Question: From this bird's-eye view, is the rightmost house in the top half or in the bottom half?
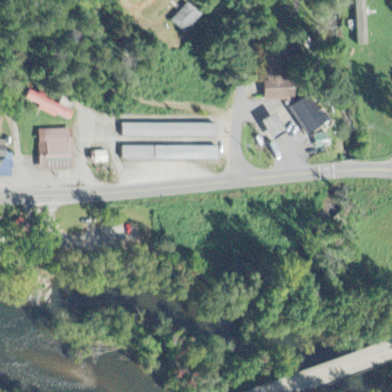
top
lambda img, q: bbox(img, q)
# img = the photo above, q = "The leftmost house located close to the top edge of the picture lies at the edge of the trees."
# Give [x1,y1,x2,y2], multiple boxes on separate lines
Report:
[172,0,202,31]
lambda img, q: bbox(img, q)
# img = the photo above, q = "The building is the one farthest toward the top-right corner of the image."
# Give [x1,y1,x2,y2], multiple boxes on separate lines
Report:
[356,0,378,45]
